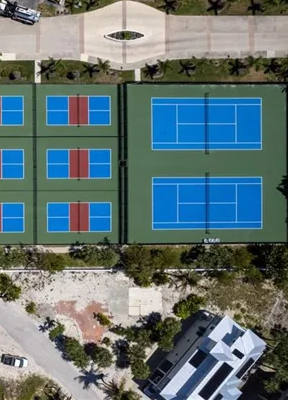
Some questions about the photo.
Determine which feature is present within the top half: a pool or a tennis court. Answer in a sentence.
What appears within the top half is a tennis court.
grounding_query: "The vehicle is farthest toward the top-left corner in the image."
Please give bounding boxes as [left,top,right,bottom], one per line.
[0,0,42,26]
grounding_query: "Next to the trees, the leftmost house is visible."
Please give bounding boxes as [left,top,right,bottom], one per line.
[142,307,268,400]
